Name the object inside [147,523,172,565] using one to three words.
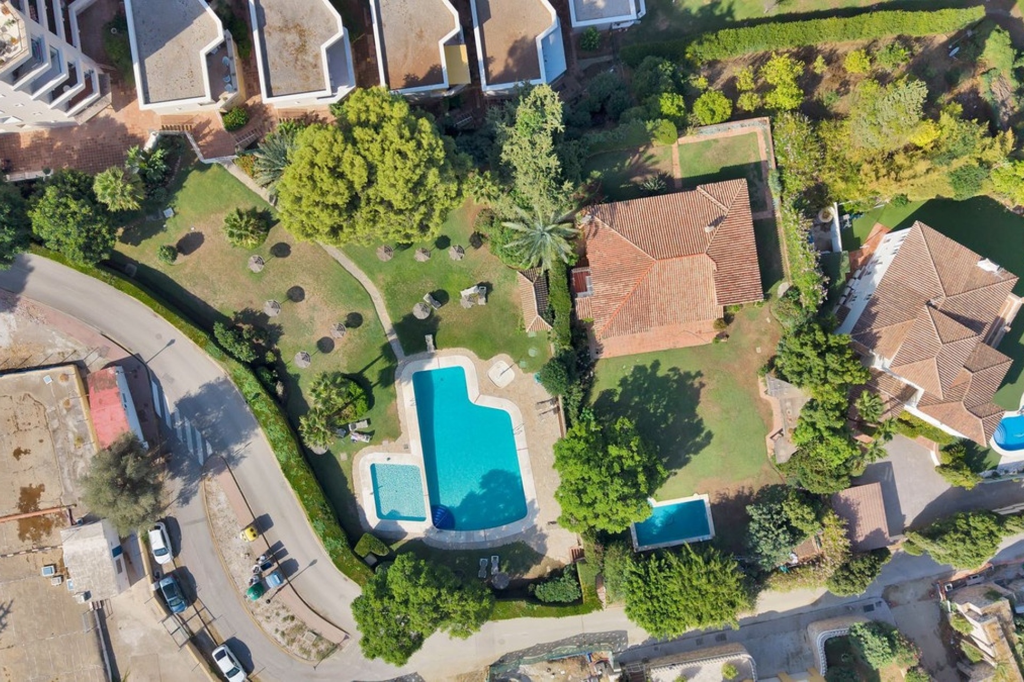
car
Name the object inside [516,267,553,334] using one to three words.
shed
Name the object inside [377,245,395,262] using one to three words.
umbrella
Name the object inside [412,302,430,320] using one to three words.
umbrella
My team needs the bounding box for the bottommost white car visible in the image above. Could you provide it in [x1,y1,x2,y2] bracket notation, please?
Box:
[211,645,245,682]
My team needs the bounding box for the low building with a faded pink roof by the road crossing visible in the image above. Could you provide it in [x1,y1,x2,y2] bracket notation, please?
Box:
[88,366,152,450]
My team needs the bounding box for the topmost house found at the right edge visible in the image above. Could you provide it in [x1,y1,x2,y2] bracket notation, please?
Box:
[840,221,1024,448]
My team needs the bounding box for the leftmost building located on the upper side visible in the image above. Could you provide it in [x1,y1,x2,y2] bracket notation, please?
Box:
[0,0,108,131]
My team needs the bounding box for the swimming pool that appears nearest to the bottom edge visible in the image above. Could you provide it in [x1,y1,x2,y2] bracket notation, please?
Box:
[629,495,715,552]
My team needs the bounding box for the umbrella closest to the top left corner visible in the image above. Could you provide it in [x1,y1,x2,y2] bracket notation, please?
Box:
[248,255,266,273]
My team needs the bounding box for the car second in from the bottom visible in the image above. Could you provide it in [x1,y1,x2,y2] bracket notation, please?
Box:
[158,574,188,614]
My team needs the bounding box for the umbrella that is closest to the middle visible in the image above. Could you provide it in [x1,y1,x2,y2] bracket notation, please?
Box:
[460,291,478,308]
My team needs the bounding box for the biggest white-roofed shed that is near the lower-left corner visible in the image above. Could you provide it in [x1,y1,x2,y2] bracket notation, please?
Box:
[60,518,132,603]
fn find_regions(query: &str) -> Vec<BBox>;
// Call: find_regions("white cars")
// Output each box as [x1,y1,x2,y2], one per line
[211,645,245,682]
[147,523,172,565]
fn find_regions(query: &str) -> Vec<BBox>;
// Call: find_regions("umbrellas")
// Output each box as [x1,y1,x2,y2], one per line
[460,291,478,308]
[447,243,464,261]
[330,321,349,340]
[264,299,282,317]
[377,245,395,262]
[413,245,430,263]
[248,255,266,273]
[294,350,312,368]
[313,441,329,455]
[412,302,430,320]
